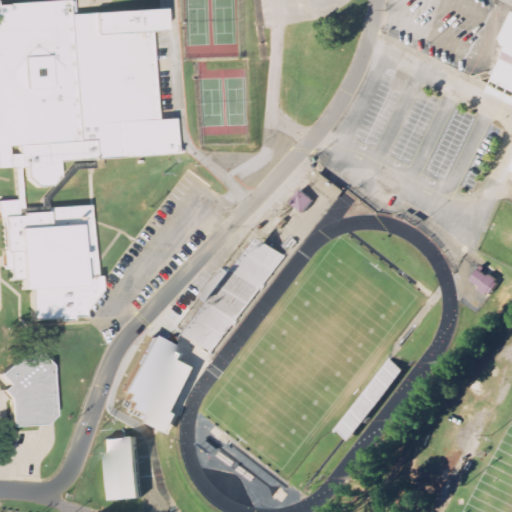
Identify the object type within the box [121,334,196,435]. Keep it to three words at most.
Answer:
building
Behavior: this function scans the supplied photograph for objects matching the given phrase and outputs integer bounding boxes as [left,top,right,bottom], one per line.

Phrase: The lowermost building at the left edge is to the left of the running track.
[0,360,62,427]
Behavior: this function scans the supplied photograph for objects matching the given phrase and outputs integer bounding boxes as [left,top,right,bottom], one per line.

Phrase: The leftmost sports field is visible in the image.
[206,236,418,470]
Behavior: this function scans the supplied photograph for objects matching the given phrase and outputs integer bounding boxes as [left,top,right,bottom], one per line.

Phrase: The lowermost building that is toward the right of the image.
[468,264,497,295]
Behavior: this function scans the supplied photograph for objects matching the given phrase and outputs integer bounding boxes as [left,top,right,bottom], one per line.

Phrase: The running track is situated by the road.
[180,191,456,512]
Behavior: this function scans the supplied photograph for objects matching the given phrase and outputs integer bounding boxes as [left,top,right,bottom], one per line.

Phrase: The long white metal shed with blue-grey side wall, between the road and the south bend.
[104,436,141,500]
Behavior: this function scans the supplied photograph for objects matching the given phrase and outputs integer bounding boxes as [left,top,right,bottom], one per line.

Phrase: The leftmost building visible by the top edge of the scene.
[0,0,186,188]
